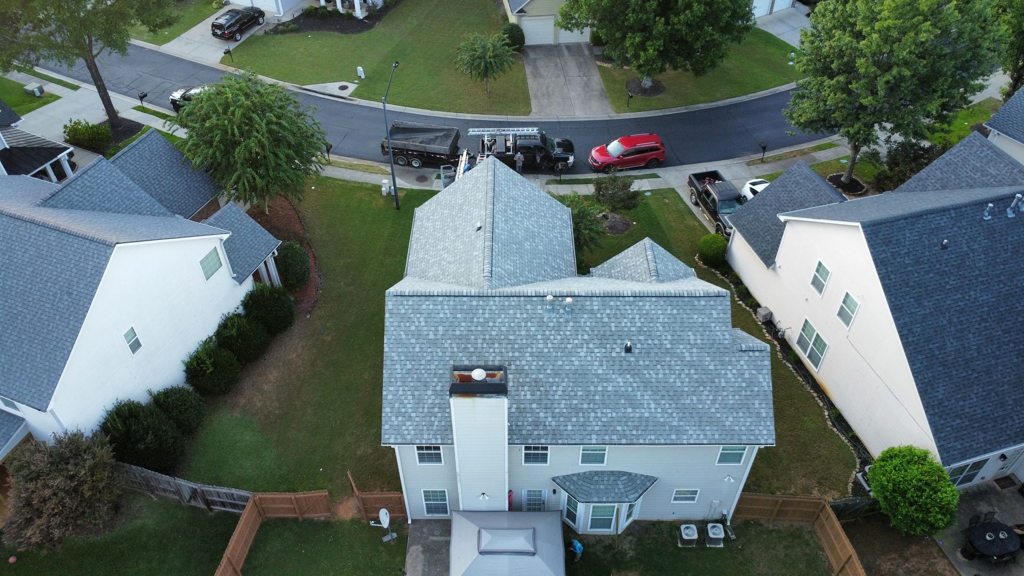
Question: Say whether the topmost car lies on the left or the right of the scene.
left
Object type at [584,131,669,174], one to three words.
car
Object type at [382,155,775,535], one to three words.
house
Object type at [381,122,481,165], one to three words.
trailer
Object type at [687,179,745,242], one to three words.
truck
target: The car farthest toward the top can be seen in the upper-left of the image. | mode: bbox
[210,7,265,42]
